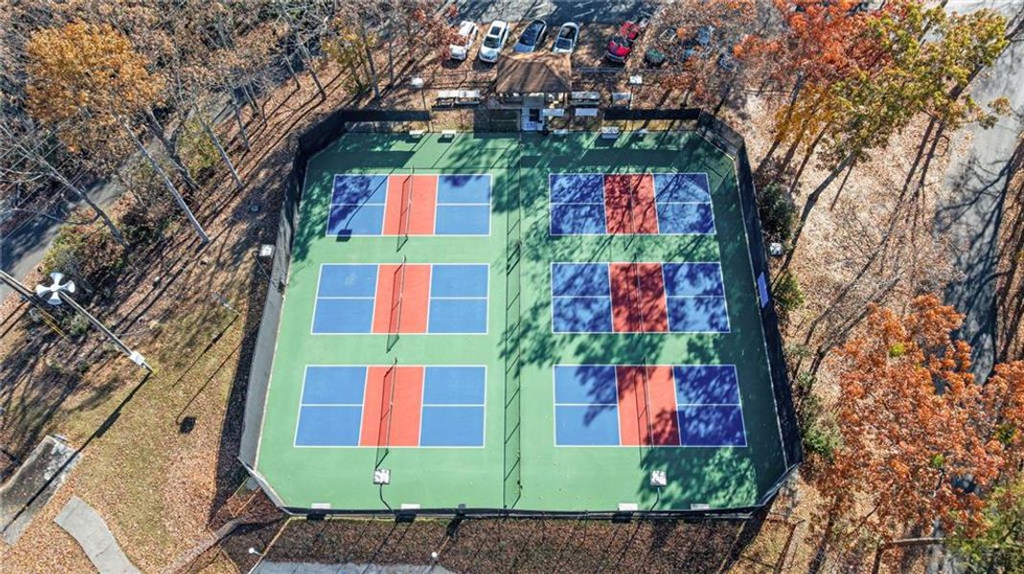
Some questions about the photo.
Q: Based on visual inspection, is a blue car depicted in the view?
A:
Yes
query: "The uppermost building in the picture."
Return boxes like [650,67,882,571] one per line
[496,54,573,112]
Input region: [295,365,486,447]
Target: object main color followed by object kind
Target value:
blue sports court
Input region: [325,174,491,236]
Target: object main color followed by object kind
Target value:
blue sports court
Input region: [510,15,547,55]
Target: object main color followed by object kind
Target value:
blue car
